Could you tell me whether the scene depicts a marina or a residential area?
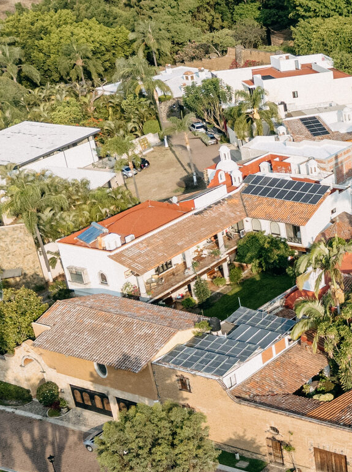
residential area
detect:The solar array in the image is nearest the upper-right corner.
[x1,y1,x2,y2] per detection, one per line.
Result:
[299,117,329,136]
